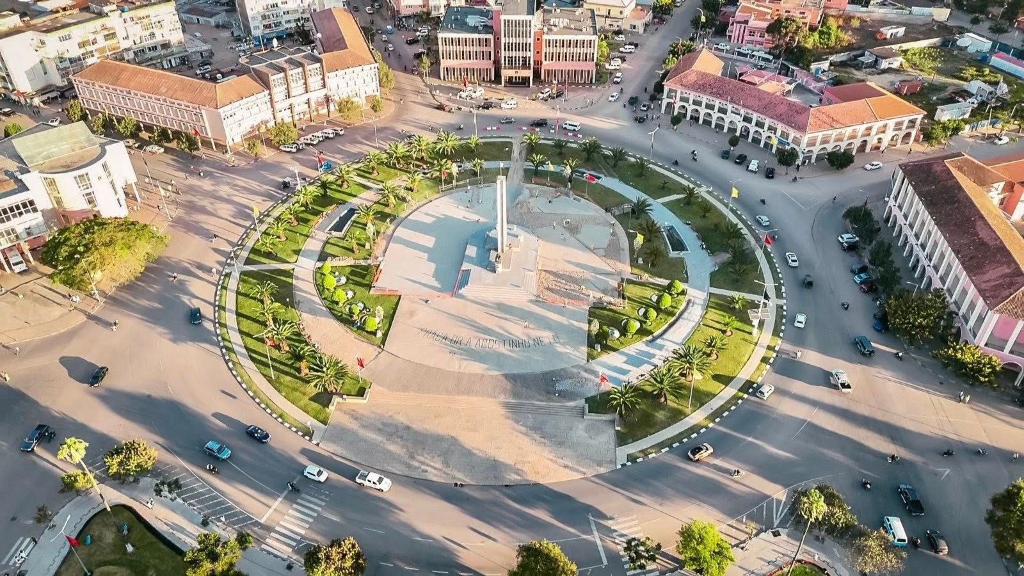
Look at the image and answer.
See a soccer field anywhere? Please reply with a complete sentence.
No, no soccer field can be seen from above.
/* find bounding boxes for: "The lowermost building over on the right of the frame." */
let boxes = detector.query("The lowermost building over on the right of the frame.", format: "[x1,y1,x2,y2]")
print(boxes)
[884,141,1024,381]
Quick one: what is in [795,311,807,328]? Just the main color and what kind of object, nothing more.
white vehicle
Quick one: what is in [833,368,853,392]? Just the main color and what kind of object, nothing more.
white vehicle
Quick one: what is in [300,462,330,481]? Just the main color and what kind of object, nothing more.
white car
